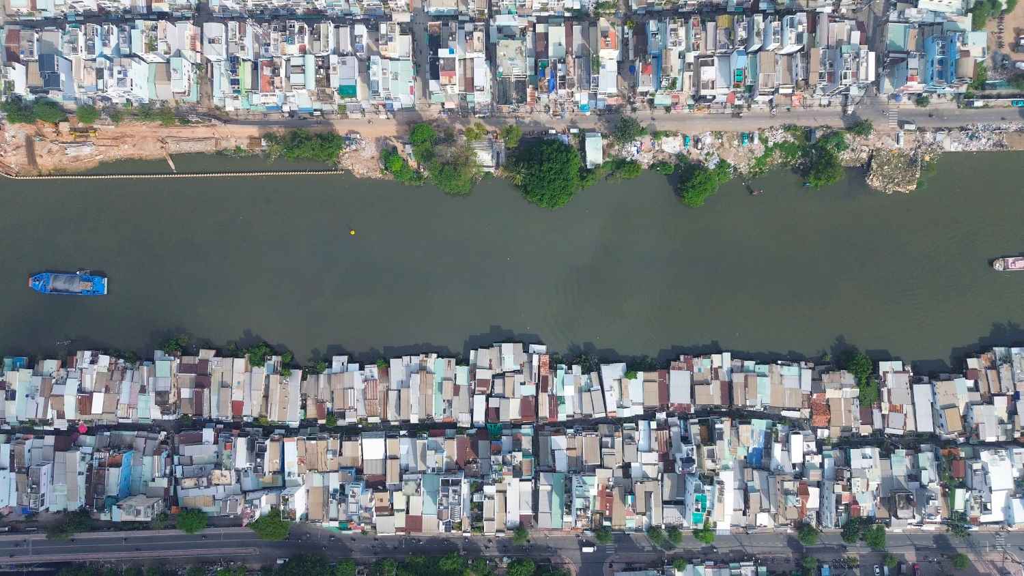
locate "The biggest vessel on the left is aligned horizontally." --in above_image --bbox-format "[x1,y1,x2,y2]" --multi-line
[27,272,110,295]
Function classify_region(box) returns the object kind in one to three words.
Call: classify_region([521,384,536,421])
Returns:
house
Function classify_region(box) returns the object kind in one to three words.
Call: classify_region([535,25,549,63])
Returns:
house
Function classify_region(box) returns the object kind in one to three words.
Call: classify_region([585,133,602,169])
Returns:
shed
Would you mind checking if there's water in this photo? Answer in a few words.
Yes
